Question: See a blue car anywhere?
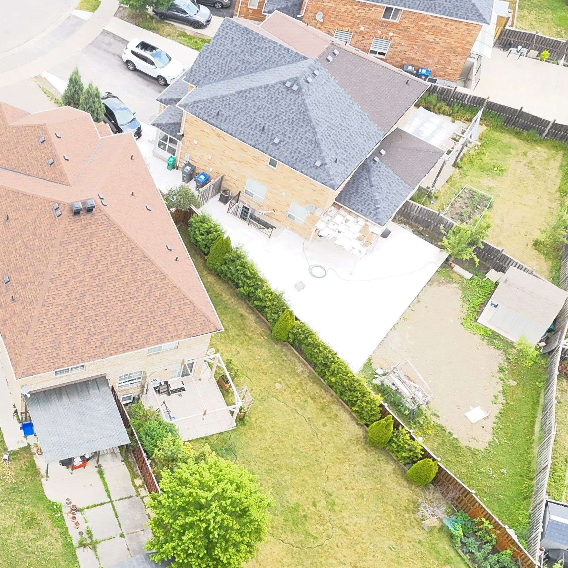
No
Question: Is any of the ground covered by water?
No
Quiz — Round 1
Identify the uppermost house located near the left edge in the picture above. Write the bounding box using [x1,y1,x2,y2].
[0,102,225,422]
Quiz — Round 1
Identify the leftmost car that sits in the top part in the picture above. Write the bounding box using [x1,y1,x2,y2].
[97,85,149,135]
